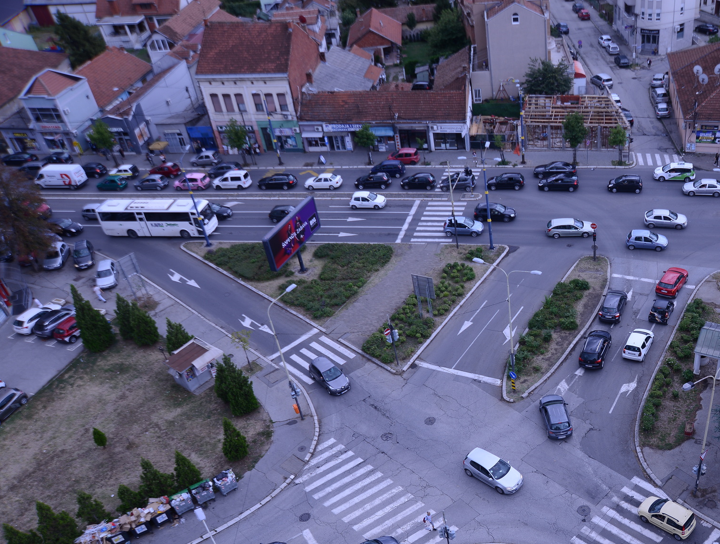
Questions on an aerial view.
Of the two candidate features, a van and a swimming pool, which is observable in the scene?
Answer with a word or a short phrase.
van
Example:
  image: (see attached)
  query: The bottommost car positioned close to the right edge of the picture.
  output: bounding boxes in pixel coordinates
[637,498,698,541]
